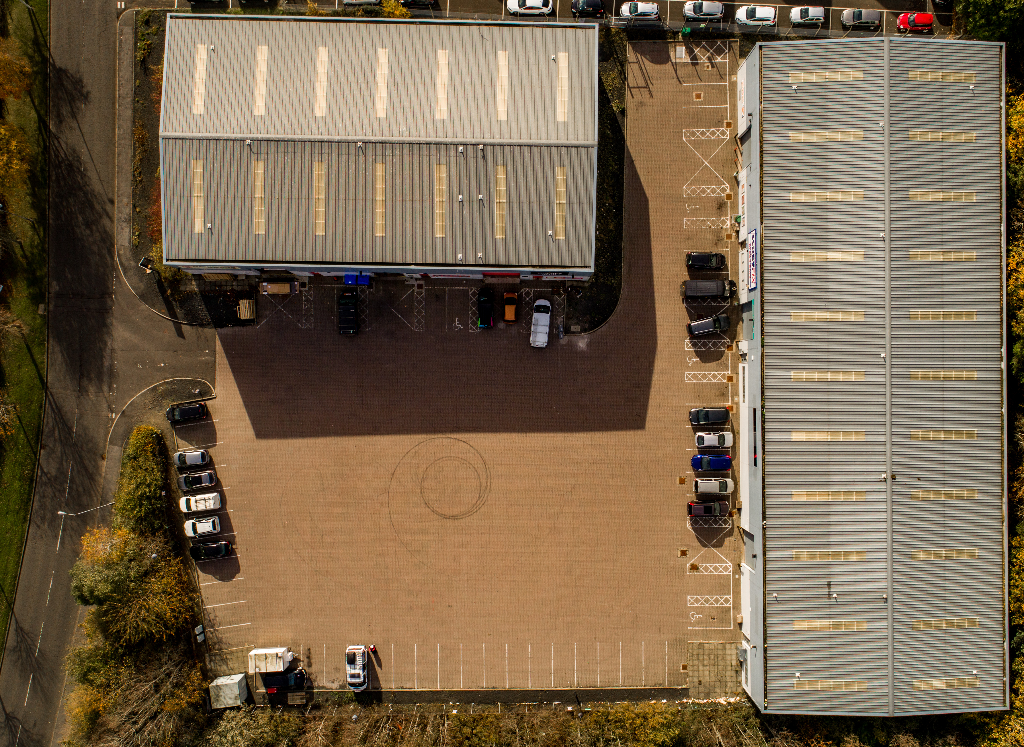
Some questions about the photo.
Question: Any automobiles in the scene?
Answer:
Yes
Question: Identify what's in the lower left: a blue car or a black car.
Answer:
black car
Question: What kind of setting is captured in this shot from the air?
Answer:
industrial area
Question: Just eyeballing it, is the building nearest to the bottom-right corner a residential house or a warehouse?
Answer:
warehouse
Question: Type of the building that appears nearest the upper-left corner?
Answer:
warehouse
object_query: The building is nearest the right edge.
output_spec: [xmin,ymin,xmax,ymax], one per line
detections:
[737,38,1012,716]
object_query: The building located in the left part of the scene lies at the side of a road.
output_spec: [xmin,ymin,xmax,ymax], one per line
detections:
[160,15,598,292]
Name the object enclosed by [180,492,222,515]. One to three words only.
truck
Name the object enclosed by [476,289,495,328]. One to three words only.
vehicle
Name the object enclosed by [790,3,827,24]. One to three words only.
car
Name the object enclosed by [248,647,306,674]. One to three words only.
trailer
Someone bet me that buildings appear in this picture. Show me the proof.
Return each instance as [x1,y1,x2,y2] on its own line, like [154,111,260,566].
[160,15,598,292]
[737,38,1012,716]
